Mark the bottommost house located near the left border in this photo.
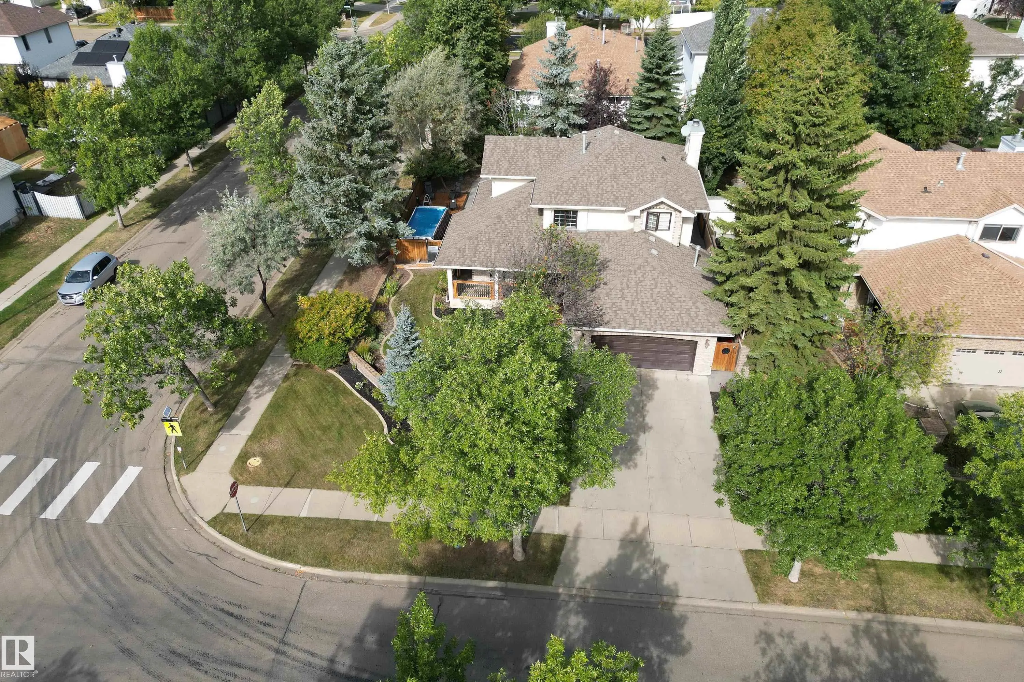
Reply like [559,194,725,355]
[0,169,41,227]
